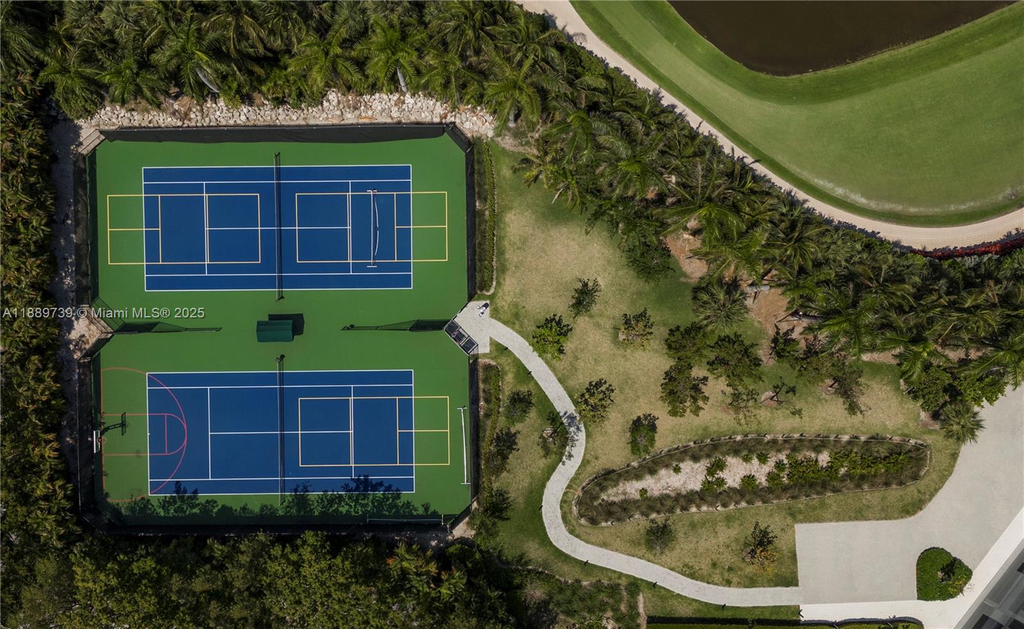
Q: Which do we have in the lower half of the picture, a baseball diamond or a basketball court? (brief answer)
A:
basketball court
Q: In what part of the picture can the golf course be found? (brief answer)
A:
top right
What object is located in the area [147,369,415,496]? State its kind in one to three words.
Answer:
tennis court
